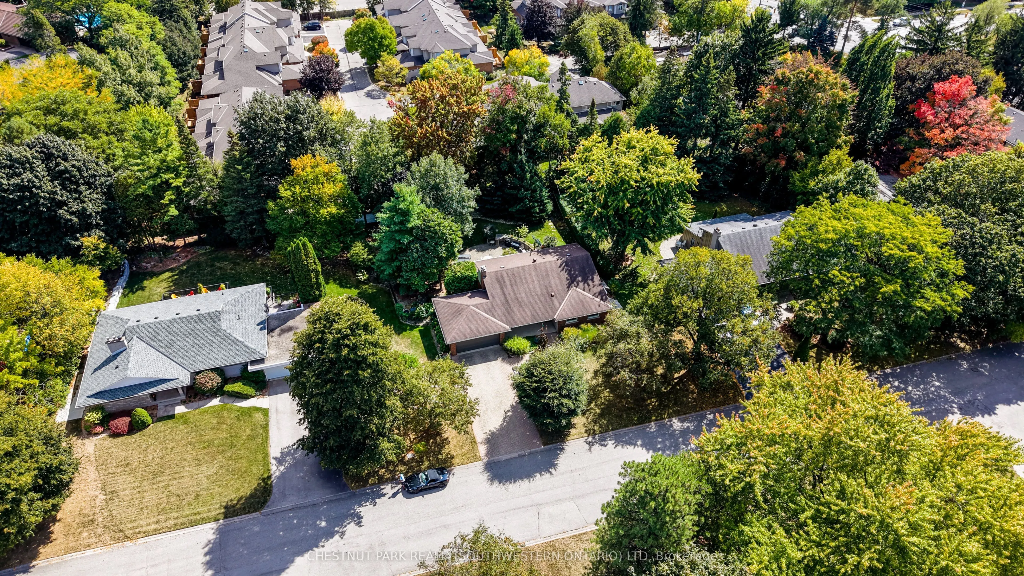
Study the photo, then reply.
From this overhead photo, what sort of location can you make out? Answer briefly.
residential area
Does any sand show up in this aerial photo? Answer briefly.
No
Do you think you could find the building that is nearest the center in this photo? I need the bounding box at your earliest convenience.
[430,243,627,355]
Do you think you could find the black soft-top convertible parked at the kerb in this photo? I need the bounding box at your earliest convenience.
[403,470,450,499]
